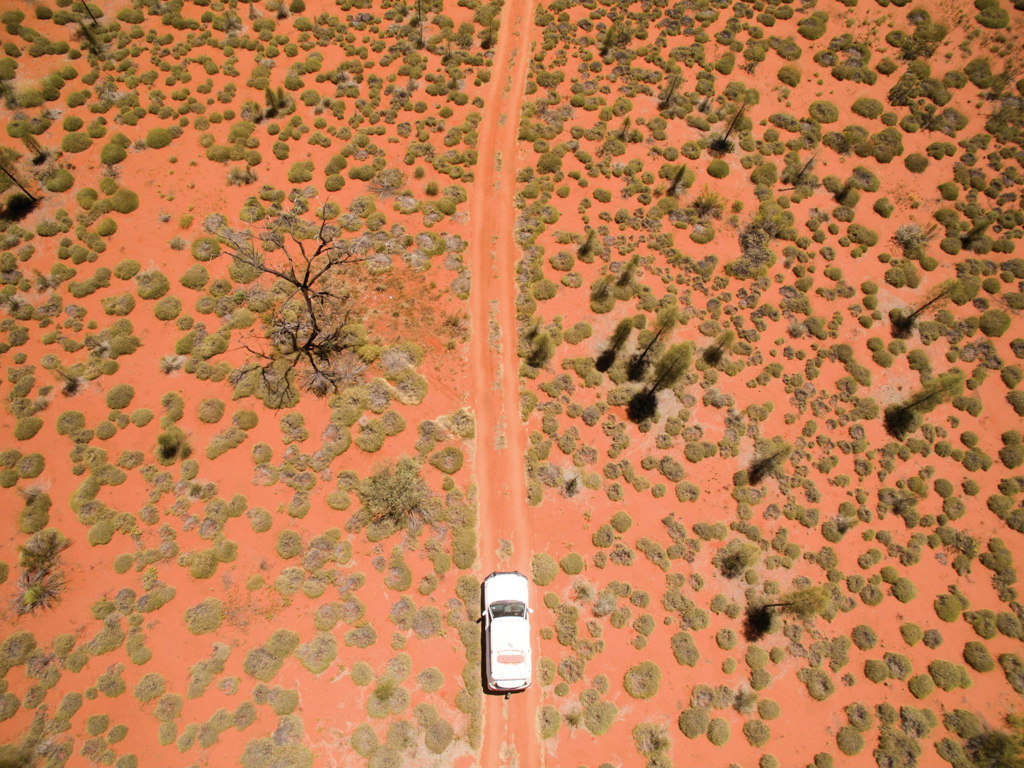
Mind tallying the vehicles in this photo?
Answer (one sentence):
The picture shows just 1 vehicle.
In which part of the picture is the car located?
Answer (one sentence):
Look in the bottom portion of the view to spot the car.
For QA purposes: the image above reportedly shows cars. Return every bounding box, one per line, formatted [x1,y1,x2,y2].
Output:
[482,570,534,697]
